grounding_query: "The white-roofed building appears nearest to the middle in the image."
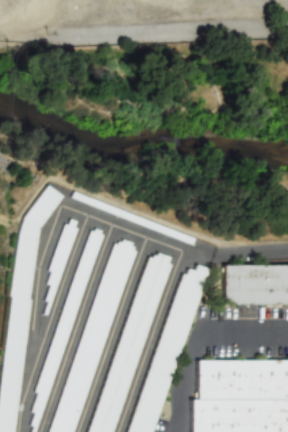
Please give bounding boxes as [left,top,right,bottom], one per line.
[72,192,196,246]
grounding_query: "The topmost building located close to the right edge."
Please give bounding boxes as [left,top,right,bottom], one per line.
[226,265,288,305]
